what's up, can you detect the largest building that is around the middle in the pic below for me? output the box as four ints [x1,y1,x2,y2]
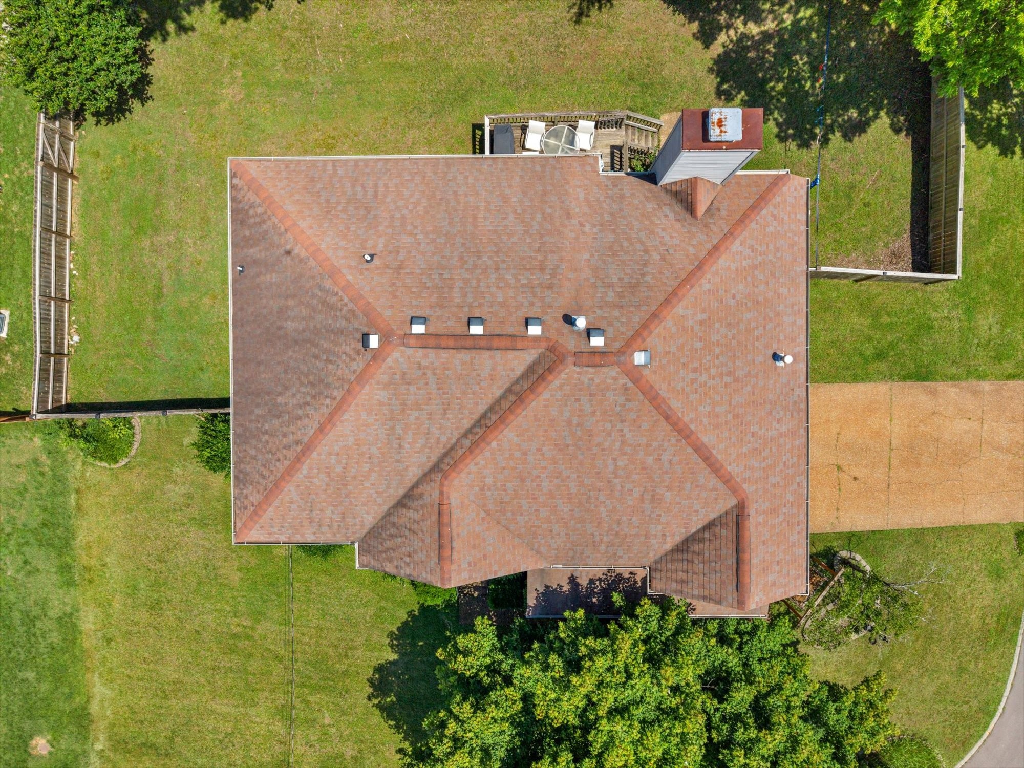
[227,106,813,620]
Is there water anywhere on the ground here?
No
